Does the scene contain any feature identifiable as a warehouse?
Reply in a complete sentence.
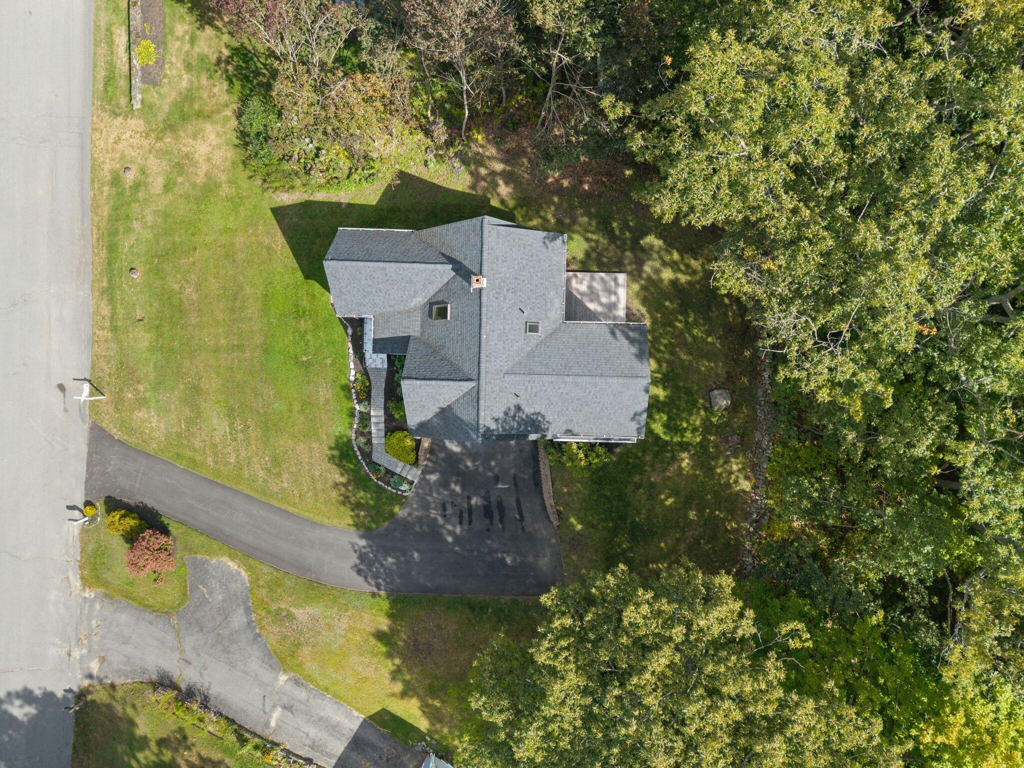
No, no warehouse is visible in the view.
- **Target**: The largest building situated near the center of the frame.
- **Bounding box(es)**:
[323,215,652,445]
